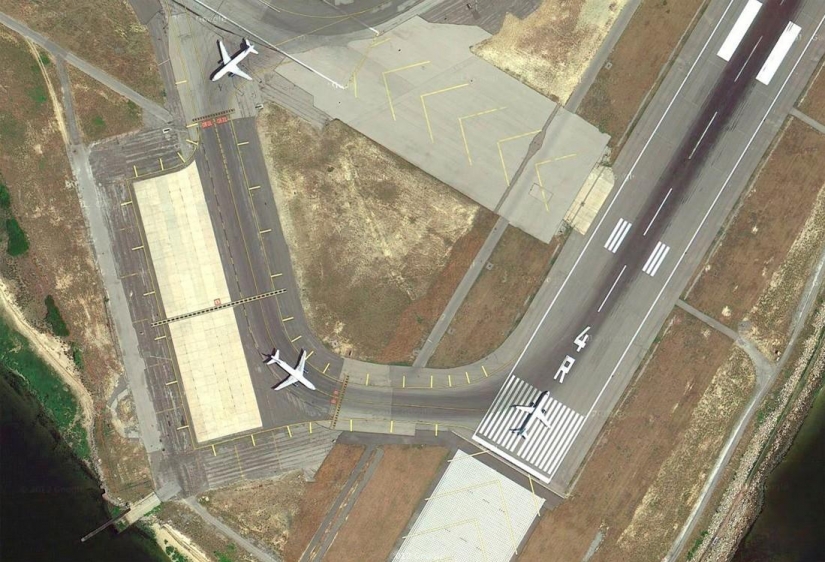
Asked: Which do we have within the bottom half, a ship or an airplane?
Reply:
airplane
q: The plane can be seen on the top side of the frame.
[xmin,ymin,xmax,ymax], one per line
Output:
[212,39,260,81]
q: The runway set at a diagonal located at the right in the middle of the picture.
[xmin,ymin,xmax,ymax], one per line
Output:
[452,0,825,497]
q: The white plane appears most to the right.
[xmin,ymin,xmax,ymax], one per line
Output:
[516,391,553,436]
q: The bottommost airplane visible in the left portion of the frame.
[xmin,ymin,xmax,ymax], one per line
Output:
[265,349,316,391]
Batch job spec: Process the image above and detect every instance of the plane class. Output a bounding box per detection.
[516,391,553,436]
[212,39,260,81]
[265,349,316,391]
